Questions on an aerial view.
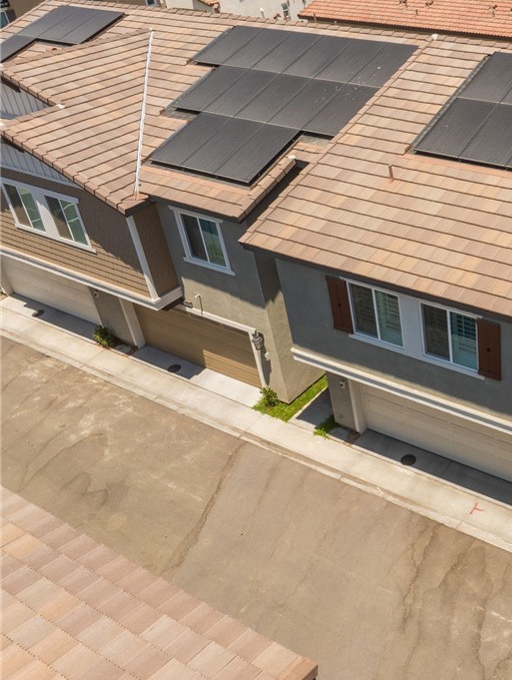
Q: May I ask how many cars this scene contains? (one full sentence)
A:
No cars are visible.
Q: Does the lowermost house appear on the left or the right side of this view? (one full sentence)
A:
You can find the lowermost house on the left side of the picture.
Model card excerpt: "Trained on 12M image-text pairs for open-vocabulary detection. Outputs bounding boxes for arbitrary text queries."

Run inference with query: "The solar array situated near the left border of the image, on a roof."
[0,4,121,63]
